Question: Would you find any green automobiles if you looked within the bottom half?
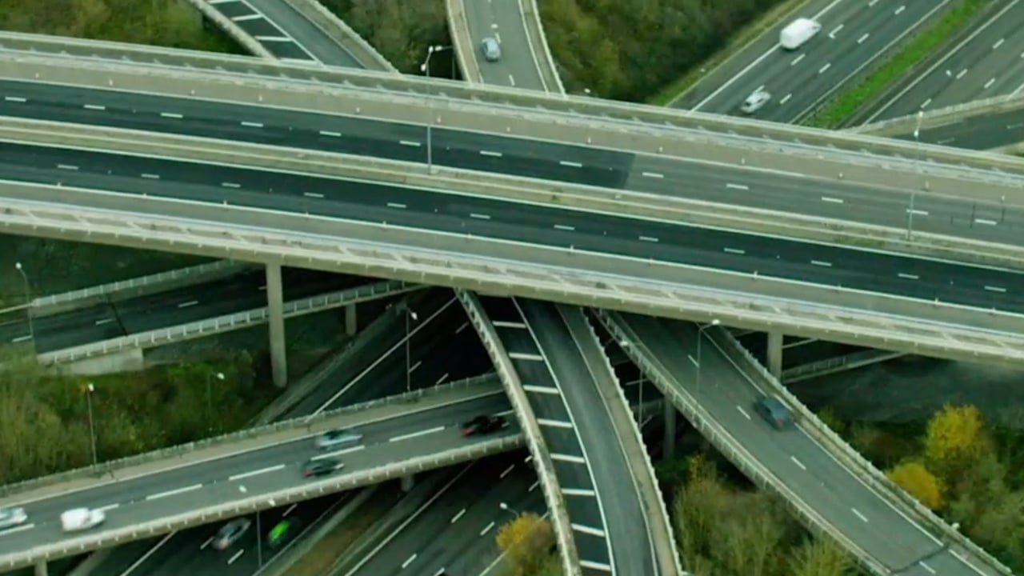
Yes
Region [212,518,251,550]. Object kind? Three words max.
car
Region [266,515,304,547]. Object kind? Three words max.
car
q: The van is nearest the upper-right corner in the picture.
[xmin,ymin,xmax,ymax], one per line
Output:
[781,20,820,52]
